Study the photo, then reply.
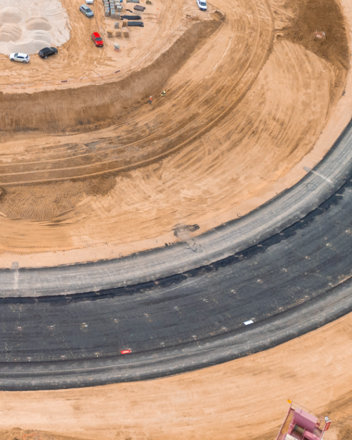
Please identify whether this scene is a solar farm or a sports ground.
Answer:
sports ground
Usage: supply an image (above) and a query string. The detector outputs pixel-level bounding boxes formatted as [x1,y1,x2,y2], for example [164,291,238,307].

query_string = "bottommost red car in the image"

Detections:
[89,30,104,45]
